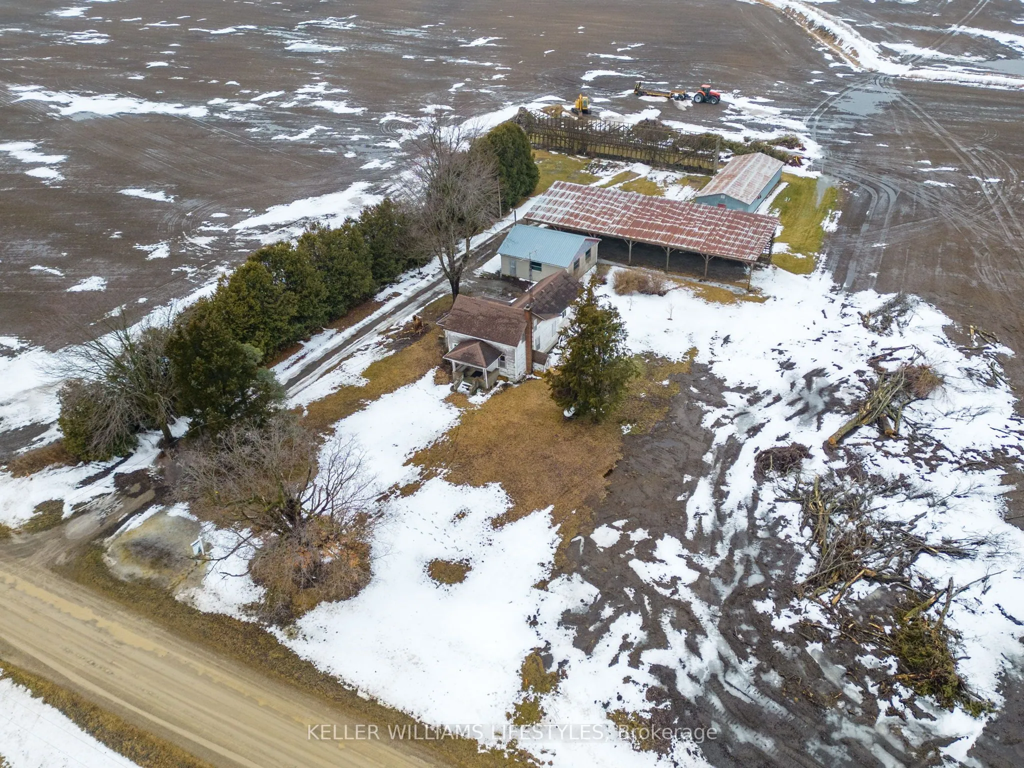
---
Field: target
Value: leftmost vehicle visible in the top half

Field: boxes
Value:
[573,87,591,116]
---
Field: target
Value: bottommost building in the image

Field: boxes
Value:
[434,268,586,394]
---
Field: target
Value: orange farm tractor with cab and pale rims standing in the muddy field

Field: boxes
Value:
[696,85,724,105]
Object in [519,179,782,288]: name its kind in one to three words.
shed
